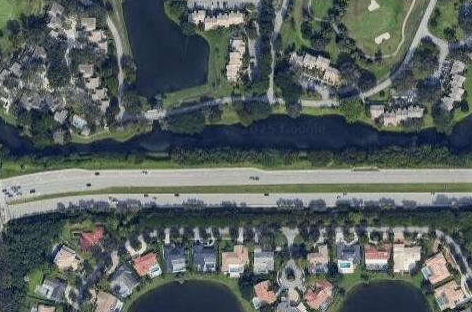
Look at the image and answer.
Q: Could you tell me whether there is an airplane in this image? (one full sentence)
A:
No, no airplane can be seen from above.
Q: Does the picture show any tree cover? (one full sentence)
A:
Yes, some tree cover is visible.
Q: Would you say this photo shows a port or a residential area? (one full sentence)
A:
This image shows a residential area.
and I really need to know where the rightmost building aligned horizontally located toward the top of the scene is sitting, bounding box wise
[370,103,423,127]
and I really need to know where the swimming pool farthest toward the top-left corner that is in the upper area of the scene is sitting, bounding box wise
[70,113,88,129]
